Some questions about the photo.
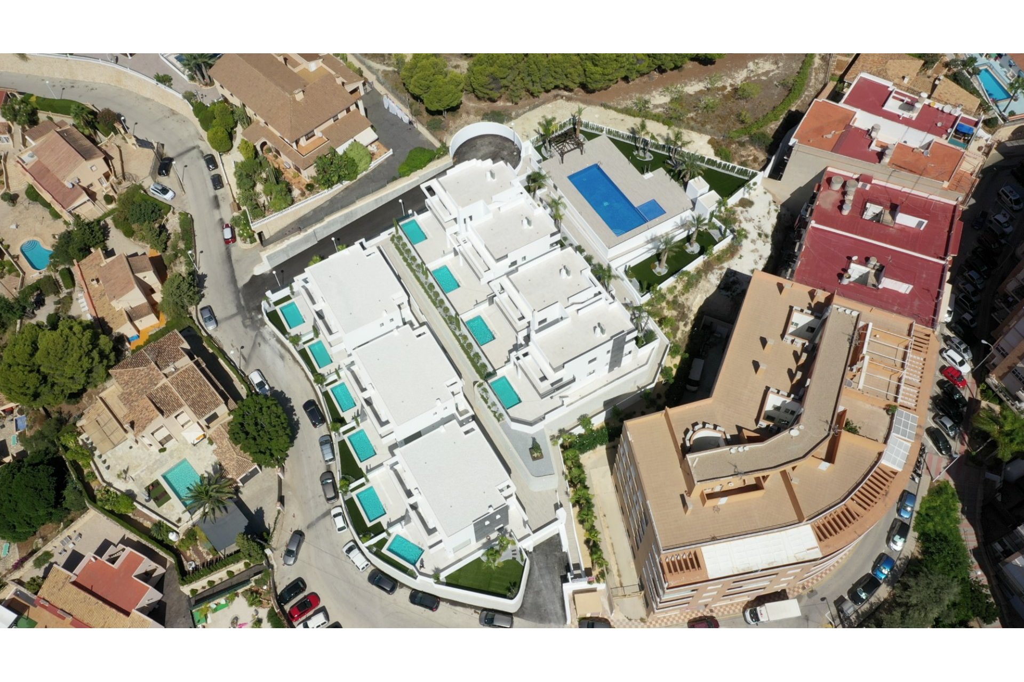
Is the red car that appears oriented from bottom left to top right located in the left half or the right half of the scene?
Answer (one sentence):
The red car that appears oriented from bottom left to top right appears in the left half of the scene.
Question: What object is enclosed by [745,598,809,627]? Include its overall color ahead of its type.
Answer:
white truck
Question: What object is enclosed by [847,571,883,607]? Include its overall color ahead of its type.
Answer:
black car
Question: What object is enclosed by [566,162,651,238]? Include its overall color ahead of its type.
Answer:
blue swimming pool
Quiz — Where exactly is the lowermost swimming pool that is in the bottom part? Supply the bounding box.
[384,533,427,567]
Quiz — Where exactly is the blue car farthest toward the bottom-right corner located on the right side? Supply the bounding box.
[872,552,895,580]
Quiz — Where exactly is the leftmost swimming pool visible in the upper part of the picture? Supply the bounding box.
[18,237,58,272]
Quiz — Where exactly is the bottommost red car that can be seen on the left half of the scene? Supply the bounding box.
[289,592,322,624]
